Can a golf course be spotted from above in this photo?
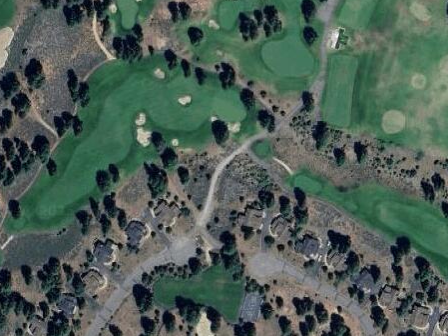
Yes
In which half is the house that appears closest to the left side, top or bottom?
bottom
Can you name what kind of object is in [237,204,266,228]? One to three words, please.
house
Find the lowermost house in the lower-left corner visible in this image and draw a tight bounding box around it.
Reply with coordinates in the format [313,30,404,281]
[22,316,50,336]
